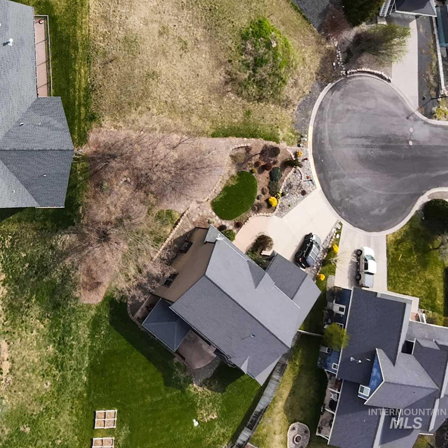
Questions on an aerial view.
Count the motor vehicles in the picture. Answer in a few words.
two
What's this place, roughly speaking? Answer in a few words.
residential area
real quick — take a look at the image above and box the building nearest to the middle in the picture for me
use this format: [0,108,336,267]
[136,236,325,387]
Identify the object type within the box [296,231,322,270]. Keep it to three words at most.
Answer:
car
